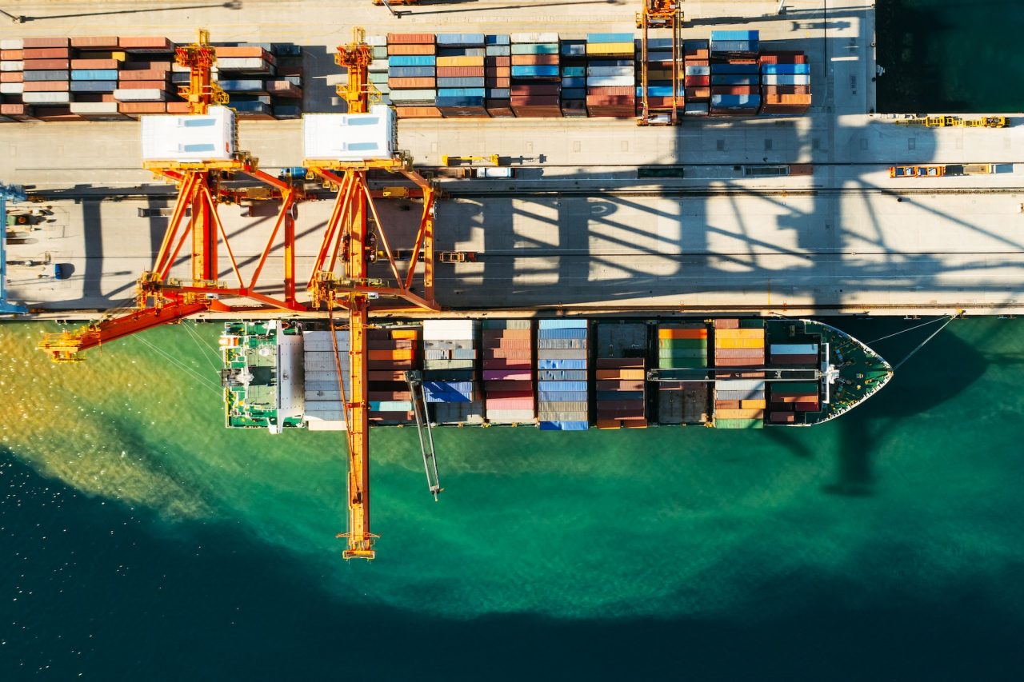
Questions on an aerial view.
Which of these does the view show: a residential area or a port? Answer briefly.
port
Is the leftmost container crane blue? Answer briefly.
Yes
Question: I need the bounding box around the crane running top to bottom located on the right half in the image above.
[634,0,682,124]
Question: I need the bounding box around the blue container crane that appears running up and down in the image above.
[0,177,50,313]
